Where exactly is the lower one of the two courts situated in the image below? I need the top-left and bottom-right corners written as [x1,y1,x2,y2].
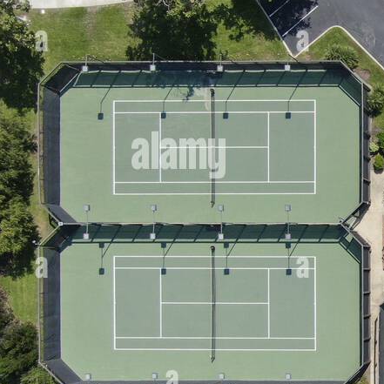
[60,226,369,382]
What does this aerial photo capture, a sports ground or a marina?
sports ground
